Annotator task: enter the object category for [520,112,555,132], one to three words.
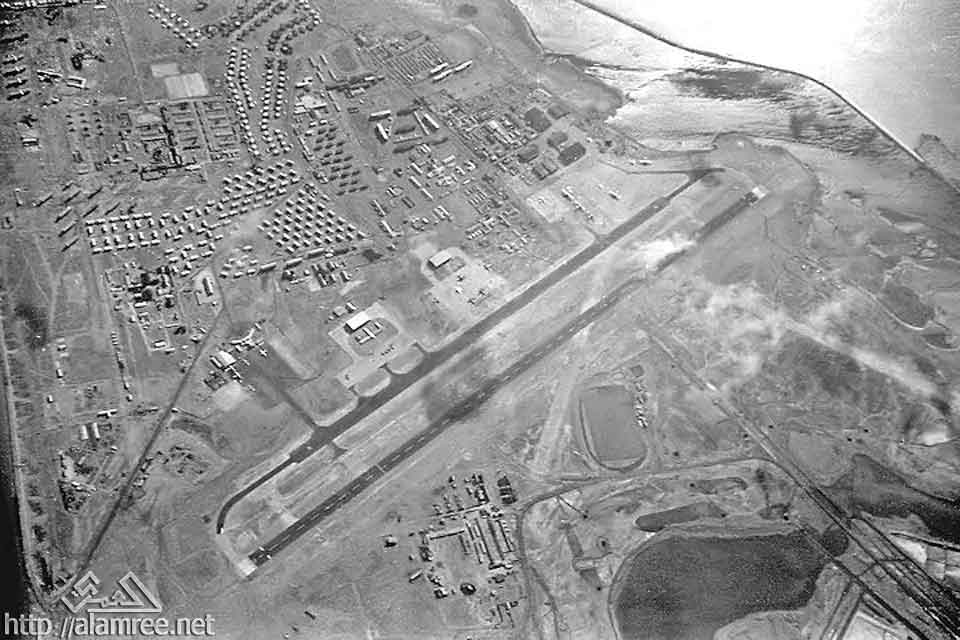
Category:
hangar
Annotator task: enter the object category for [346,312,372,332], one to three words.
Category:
hangar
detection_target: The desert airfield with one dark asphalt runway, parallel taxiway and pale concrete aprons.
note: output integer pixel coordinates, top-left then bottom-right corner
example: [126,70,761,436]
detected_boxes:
[216,160,768,575]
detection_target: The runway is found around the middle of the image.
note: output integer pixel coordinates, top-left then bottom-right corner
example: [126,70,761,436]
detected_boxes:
[248,197,757,565]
